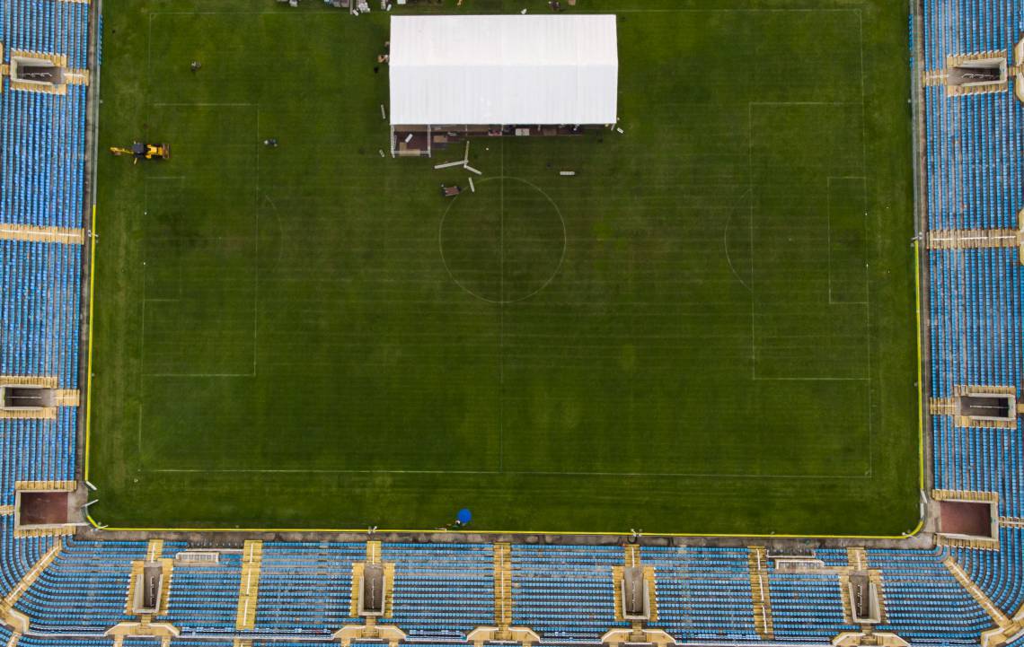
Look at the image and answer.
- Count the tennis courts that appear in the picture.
0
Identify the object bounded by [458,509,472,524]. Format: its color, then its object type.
blue umbrella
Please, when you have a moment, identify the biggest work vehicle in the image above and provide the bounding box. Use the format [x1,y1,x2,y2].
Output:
[109,141,172,162]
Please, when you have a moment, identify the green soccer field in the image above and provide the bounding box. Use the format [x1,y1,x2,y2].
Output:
[88,0,919,536]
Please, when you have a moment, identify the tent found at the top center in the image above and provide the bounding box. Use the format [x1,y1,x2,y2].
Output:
[388,14,618,136]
